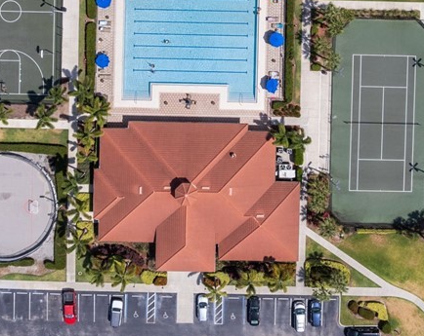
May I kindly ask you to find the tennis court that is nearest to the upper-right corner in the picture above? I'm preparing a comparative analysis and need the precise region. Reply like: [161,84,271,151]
[331,19,424,223]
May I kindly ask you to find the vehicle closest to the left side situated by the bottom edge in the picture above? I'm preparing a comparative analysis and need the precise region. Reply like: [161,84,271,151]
[62,288,75,325]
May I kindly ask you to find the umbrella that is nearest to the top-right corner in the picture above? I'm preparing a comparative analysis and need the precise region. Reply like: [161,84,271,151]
[268,31,284,48]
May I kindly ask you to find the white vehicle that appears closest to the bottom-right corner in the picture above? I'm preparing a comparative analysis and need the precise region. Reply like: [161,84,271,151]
[293,298,306,333]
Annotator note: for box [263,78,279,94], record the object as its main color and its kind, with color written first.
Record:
blue umbrella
